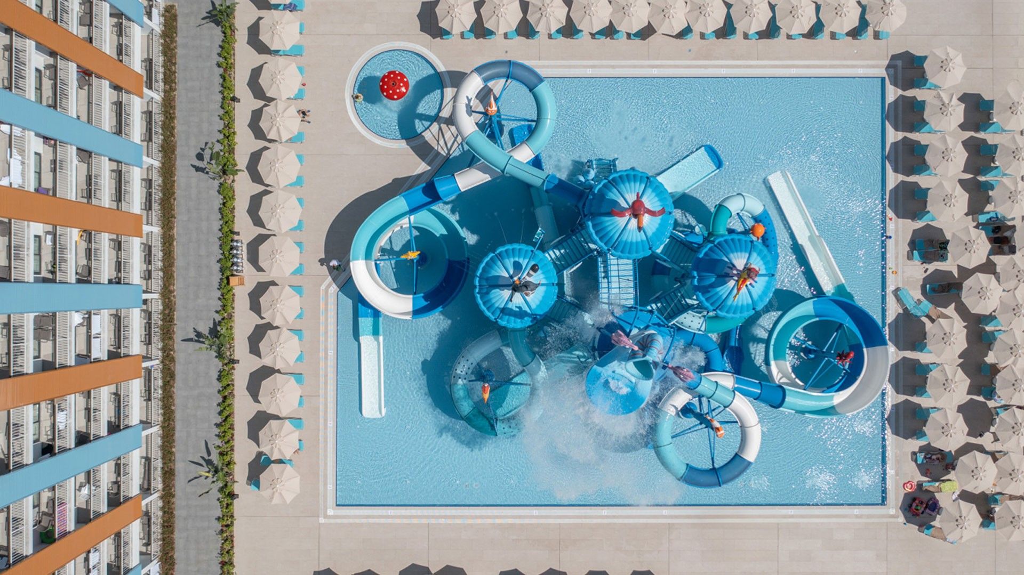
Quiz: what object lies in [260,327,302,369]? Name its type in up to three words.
umbrella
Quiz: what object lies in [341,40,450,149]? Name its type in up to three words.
swimming pool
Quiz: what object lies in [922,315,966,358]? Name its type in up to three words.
umbrella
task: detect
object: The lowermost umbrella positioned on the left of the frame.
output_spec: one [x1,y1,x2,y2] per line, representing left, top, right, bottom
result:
[259,461,302,504]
